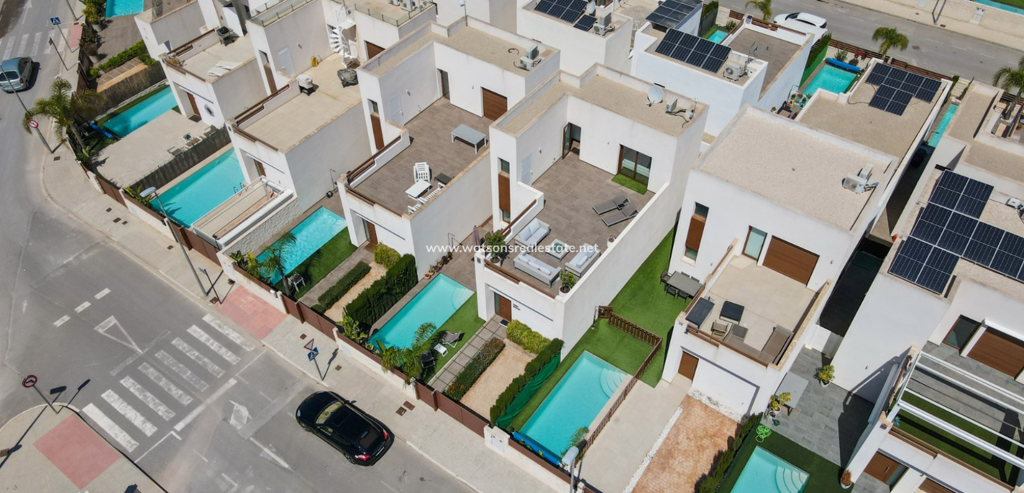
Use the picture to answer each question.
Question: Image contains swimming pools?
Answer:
Yes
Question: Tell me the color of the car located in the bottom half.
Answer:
black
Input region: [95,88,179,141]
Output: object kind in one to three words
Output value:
swimming pool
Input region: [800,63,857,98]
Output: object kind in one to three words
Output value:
swimming pool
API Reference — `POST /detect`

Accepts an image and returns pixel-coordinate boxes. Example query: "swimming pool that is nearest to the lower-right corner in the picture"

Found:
[732,444,811,493]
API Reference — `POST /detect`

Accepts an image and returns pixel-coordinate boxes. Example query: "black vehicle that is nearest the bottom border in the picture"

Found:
[295,390,392,468]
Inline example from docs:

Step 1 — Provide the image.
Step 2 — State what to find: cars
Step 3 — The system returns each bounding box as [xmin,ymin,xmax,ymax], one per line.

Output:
[0,57,32,94]
[295,390,392,468]
[772,14,830,44]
